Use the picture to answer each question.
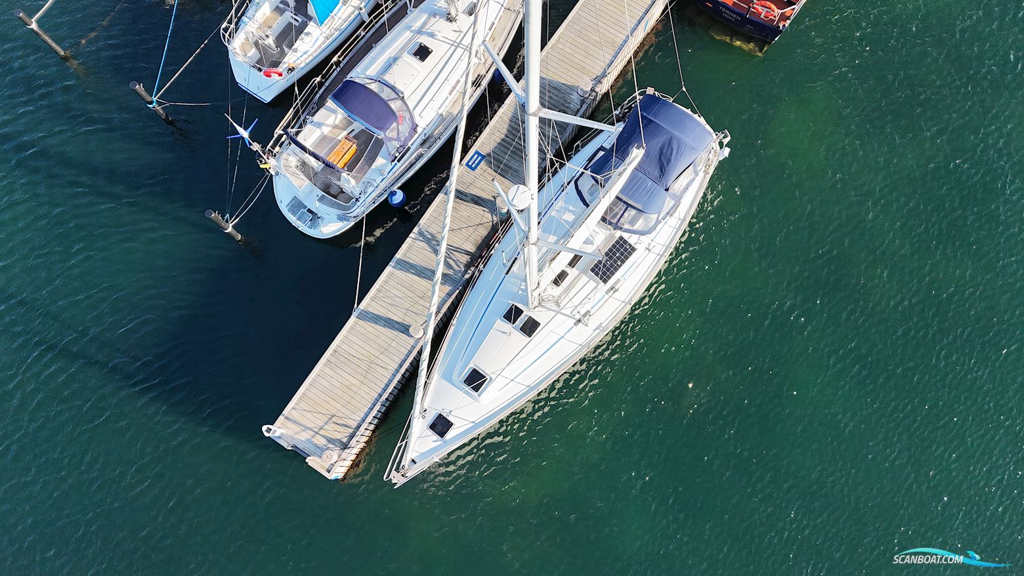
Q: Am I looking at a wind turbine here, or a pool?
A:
wind turbine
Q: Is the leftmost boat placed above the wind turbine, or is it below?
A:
above it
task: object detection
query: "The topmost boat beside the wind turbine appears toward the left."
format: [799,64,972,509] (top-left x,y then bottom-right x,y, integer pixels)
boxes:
[219,0,386,110]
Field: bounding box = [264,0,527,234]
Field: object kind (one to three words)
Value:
boat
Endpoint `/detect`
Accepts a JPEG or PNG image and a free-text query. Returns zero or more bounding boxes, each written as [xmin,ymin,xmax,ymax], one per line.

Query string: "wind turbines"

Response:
[219,119,278,184]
